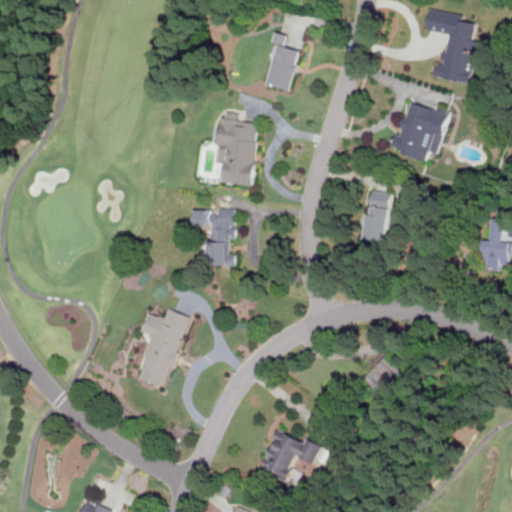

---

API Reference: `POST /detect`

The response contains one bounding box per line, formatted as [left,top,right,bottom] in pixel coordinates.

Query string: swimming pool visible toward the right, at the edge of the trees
[455,140,487,166]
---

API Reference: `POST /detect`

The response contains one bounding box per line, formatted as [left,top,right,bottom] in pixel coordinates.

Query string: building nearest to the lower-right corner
[366,354,399,393]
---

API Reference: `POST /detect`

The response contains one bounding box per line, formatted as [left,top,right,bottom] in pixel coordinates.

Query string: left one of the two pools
[197,142,222,184]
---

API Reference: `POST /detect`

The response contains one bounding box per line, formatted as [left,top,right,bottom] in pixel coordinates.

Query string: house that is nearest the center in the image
[192,209,238,267]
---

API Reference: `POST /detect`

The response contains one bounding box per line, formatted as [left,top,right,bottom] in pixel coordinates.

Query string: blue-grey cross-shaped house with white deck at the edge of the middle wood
[480,212,512,271]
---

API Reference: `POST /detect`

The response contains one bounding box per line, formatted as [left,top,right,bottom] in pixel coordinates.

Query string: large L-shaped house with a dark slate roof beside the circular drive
[426,8,478,82]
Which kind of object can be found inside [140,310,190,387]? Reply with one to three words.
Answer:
house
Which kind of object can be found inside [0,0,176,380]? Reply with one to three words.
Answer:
golf course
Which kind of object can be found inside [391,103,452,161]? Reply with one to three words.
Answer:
house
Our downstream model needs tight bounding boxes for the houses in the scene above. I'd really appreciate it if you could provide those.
[261,430,330,485]
[140,310,190,387]
[265,32,300,90]
[426,8,478,82]
[214,112,258,187]
[192,209,238,267]
[366,354,399,393]
[391,103,452,161]
[480,212,512,271]
[84,502,114,512]
[361,190,394,241]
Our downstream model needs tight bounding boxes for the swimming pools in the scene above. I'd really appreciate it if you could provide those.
[197,142,222,184]
[455,140,487,166]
